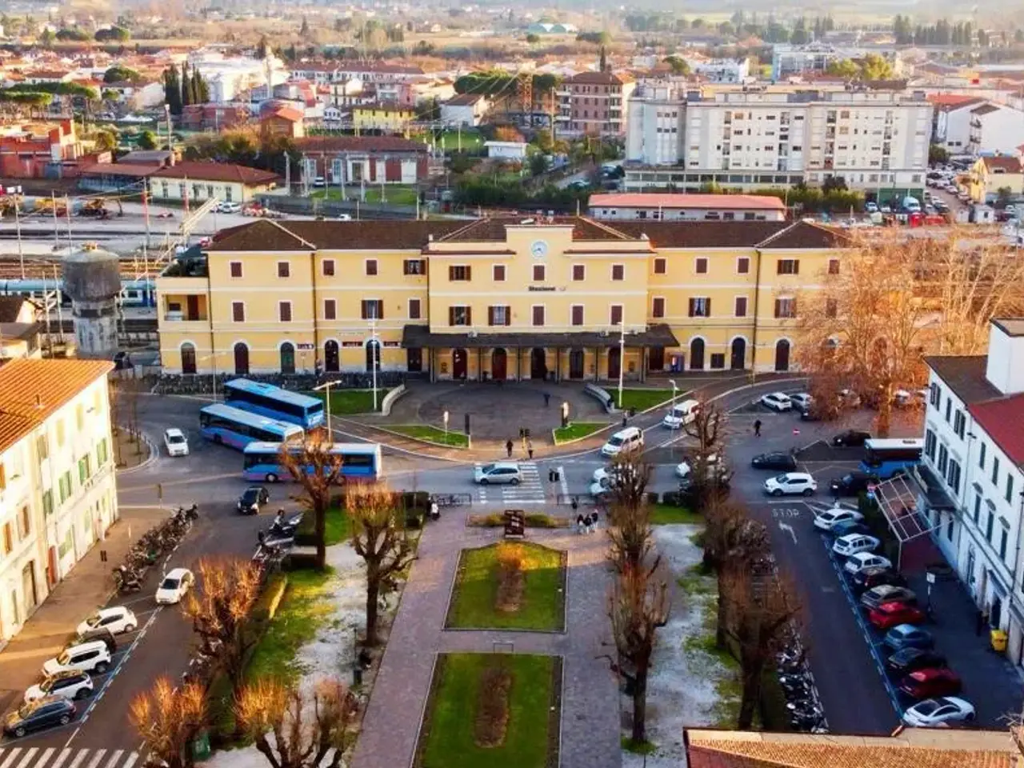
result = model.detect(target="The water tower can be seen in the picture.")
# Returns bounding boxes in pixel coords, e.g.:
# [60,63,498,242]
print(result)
[57,238,130,357]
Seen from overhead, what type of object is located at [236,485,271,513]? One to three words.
car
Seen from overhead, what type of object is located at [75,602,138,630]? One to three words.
car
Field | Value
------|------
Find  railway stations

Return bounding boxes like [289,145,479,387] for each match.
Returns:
[157,206,928,383]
